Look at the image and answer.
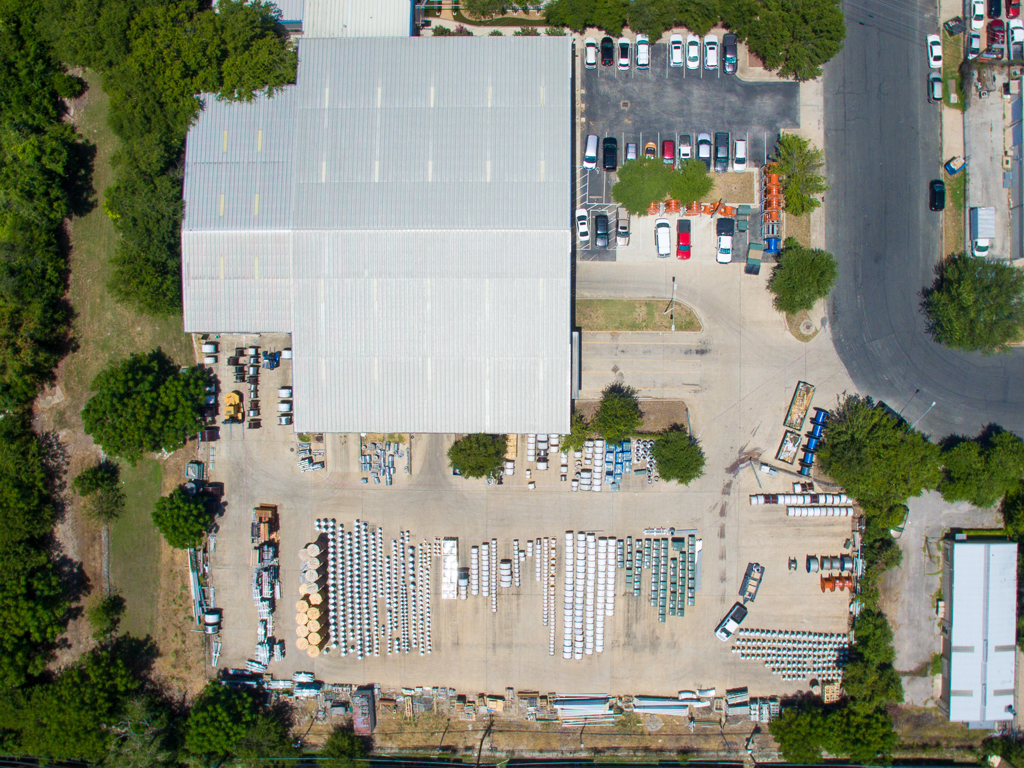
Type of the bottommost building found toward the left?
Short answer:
warehouse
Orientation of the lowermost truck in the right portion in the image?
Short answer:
diagonally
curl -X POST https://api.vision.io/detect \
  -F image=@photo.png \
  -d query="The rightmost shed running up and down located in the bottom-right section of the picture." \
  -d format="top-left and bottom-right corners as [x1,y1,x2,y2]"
[938,540,1018,721]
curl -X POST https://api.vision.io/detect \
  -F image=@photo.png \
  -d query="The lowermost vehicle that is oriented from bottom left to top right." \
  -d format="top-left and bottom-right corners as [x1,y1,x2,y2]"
[714,599,750,640]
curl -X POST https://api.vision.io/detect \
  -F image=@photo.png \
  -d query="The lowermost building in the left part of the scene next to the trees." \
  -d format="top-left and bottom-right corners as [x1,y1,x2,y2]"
[182,36,580,434]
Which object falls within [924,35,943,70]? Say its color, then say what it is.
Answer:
white car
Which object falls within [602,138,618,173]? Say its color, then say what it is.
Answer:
black car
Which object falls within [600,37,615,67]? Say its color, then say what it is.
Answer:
black car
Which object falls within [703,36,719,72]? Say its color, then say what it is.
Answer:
white car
